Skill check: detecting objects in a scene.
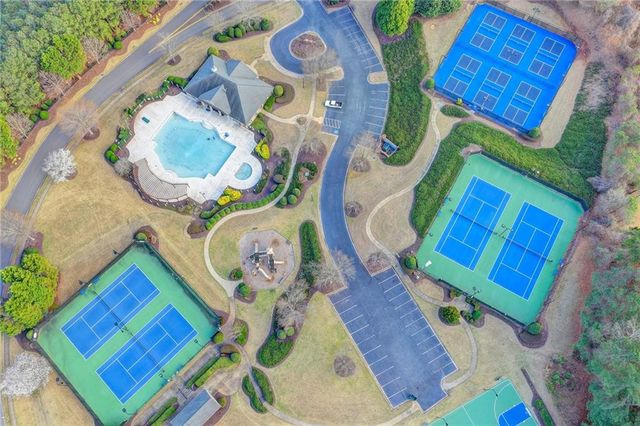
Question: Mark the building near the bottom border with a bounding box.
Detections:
[165,389,220,426]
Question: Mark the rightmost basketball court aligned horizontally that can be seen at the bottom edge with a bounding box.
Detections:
[422,377,538,426]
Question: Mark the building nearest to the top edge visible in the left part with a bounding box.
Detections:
[184,55,274,127]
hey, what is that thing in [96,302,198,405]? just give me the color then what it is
blue tennis court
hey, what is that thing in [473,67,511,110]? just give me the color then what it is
blue sports court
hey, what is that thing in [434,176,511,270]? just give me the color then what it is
blue tennis court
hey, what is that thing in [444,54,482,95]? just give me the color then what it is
blue sports court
